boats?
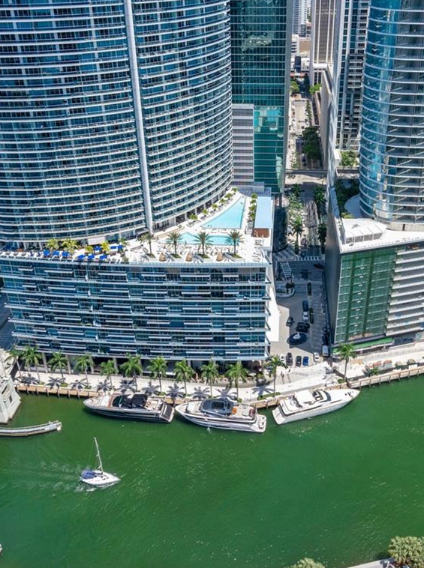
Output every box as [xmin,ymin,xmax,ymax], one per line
[176,399,273,434]
[84,392,179,423]
[273,383,362,425]
[81,445,118,484]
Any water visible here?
Yes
